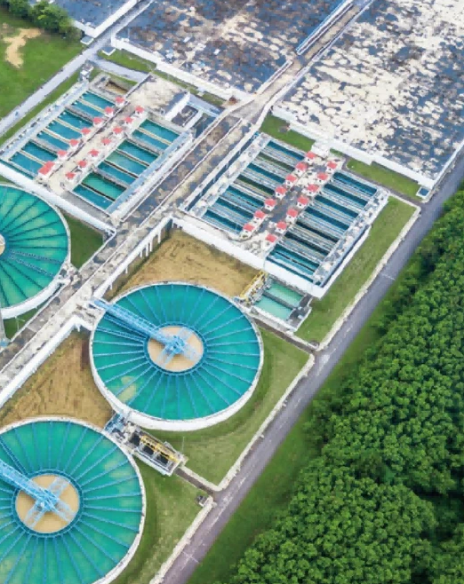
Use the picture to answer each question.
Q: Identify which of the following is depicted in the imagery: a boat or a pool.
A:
pool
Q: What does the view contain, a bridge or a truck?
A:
bridge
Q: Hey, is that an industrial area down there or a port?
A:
industrial area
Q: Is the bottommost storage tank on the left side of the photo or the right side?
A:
left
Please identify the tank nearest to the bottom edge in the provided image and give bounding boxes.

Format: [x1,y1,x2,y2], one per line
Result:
[0,415,147,584]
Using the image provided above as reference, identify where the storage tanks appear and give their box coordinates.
[88,277,265,431]
[0,415,147,584]
[0,180,72,319]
